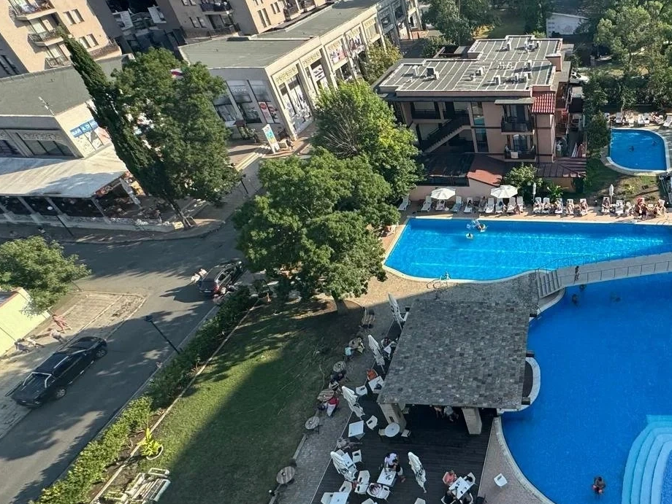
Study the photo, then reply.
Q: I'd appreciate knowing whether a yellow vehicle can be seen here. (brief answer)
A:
No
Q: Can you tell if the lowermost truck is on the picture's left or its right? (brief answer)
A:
left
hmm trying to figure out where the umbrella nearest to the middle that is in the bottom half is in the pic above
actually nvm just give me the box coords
[392,307,405,333]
